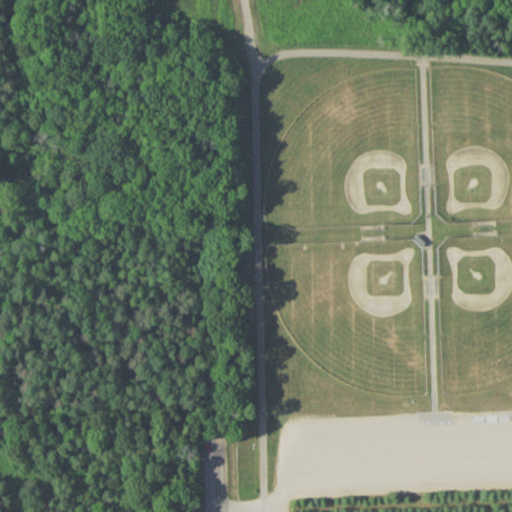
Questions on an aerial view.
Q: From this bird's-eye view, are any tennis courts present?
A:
No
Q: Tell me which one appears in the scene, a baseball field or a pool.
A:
baseball field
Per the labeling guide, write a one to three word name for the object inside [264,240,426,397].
baseball field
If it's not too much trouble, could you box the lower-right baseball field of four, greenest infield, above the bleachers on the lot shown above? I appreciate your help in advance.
[438,234,512,396]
